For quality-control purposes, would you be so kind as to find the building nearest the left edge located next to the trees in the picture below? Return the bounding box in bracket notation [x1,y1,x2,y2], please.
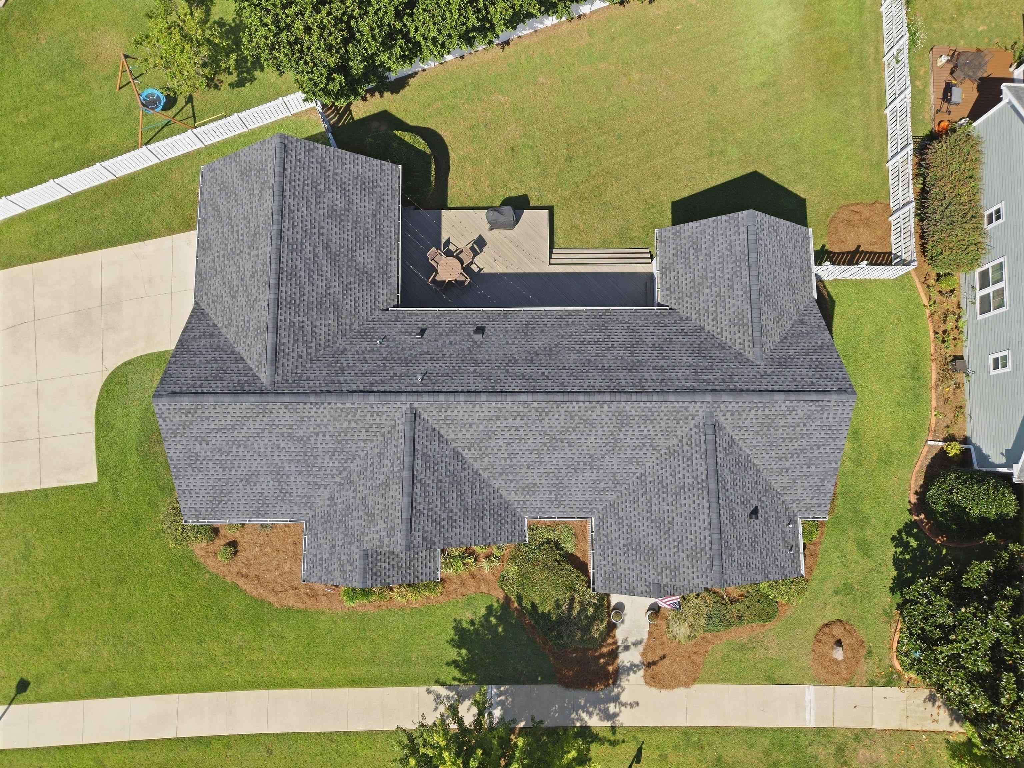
[152,134,858,598]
